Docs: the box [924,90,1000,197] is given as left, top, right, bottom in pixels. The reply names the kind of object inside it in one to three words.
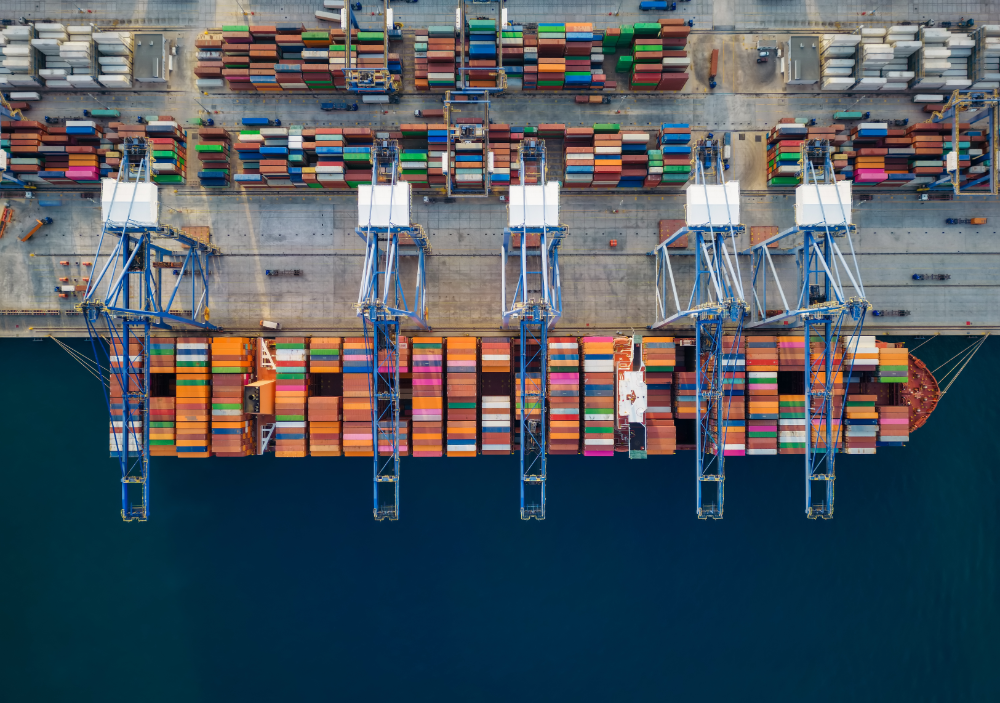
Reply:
container crane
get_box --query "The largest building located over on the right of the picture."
[787,36,819,84]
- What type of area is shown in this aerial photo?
port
